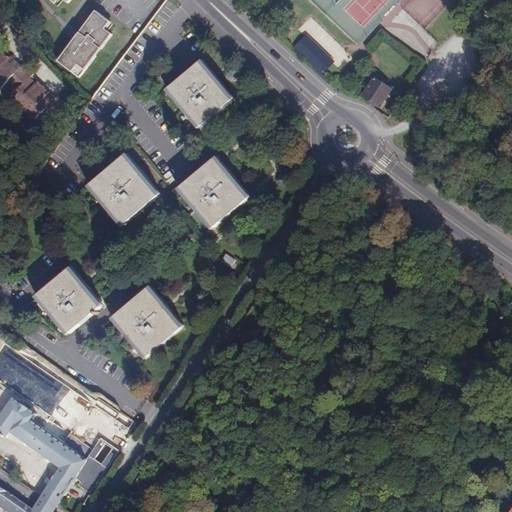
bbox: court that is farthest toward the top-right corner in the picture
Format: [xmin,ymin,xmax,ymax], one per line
[402,0,448,27]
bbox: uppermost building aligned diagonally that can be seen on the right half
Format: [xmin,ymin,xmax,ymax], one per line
[294,32,334,73]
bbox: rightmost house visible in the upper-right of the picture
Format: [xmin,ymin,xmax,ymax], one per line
[360,77,392,108]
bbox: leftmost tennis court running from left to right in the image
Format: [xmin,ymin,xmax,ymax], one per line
[309,0,404,42]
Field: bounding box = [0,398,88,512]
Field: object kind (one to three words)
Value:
building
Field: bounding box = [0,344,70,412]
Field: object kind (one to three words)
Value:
building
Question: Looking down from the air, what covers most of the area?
trees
